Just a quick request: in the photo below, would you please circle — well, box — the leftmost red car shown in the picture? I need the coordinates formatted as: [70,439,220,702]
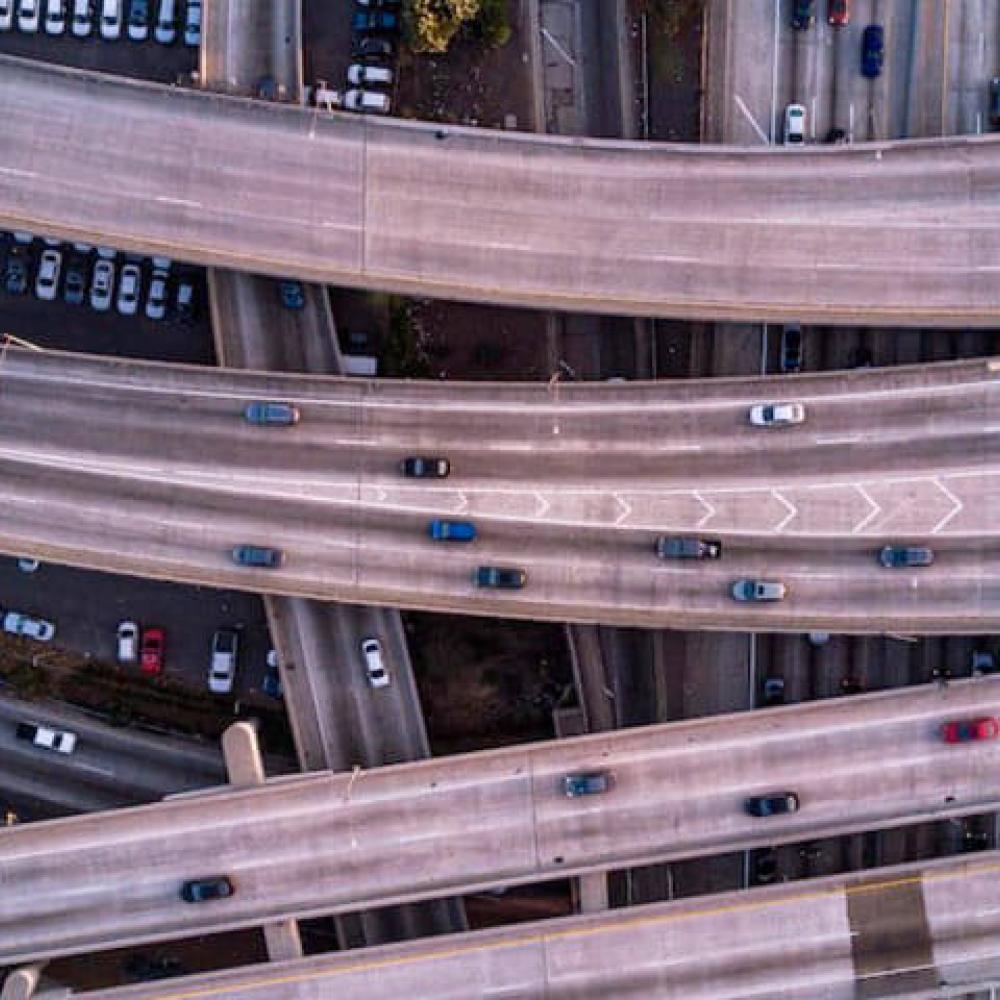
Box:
[140,627,164,674]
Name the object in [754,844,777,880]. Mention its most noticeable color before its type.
black car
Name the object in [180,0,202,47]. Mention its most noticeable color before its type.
blue car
